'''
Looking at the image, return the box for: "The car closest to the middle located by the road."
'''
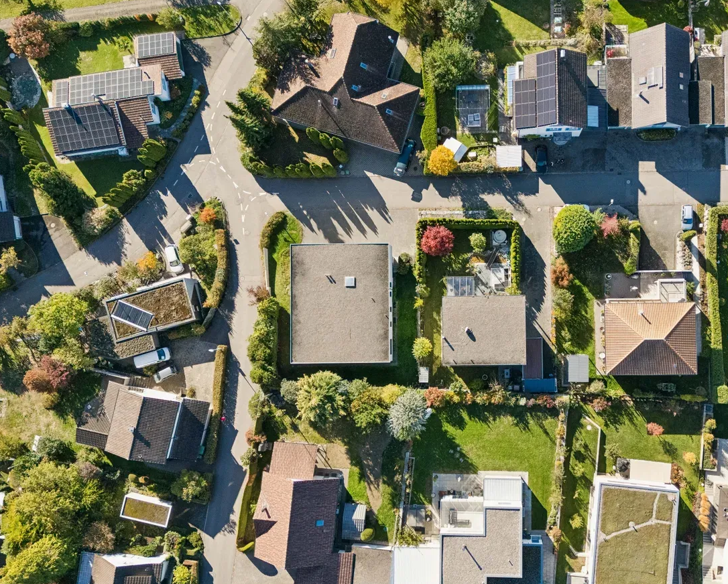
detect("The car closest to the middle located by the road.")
[393,139,416,176]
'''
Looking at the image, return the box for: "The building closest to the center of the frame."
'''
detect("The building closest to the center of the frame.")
[290,244,394,364]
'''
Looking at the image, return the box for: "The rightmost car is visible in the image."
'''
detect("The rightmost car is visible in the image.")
[680,204,692,231]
